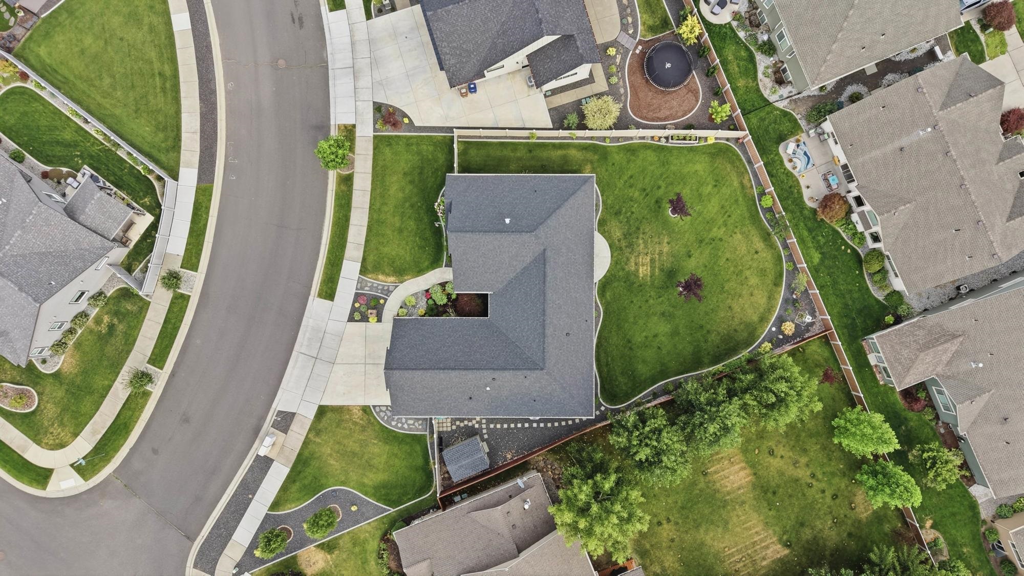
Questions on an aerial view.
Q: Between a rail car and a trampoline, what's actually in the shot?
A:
trampoline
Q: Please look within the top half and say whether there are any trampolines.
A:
Yes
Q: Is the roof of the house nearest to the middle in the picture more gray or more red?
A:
gray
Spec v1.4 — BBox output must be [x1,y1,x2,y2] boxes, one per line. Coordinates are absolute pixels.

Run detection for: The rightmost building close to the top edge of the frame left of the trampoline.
[419,0,602,95]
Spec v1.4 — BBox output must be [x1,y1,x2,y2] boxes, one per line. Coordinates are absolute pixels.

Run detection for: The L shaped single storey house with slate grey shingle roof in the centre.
[383,172,598,421]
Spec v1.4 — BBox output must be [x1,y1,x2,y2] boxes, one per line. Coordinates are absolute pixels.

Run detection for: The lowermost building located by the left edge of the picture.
[0,150,145,369]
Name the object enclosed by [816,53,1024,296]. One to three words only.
house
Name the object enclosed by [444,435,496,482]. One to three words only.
shed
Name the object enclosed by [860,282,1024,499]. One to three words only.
house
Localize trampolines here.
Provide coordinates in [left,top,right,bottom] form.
[641,35,696,93]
